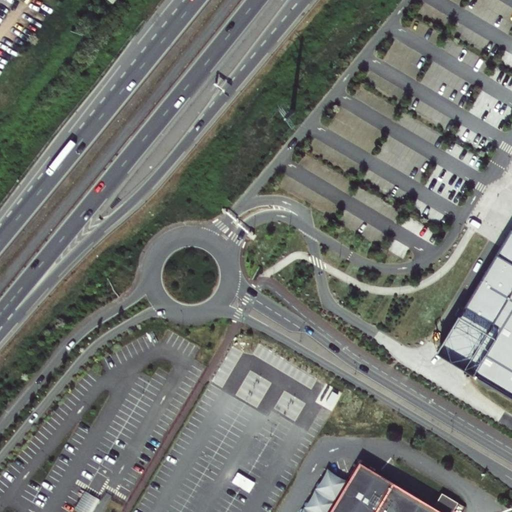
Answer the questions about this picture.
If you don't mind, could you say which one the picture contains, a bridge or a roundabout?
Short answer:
roundabout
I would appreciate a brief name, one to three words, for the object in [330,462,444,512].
building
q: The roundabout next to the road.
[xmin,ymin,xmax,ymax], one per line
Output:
[128,220,244,324]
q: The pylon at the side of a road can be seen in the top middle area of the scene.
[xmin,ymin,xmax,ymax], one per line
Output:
[278,104,297,128]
